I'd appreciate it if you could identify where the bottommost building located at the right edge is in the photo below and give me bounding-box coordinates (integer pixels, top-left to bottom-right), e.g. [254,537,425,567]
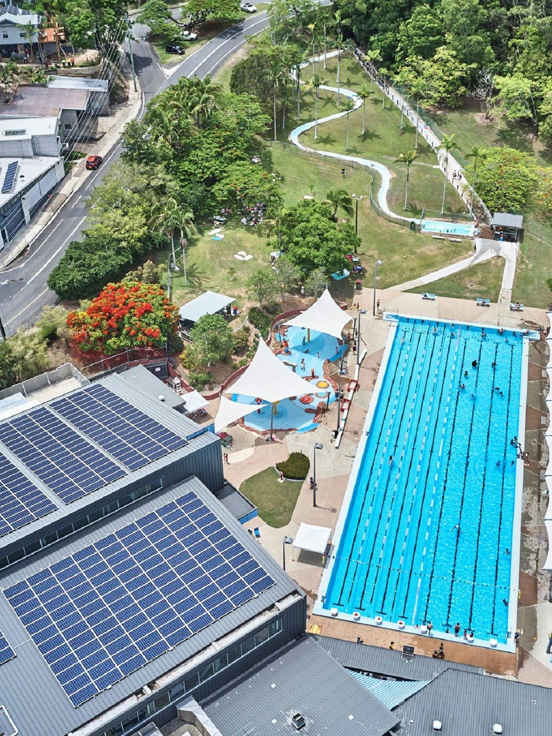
[390,669,552,736]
